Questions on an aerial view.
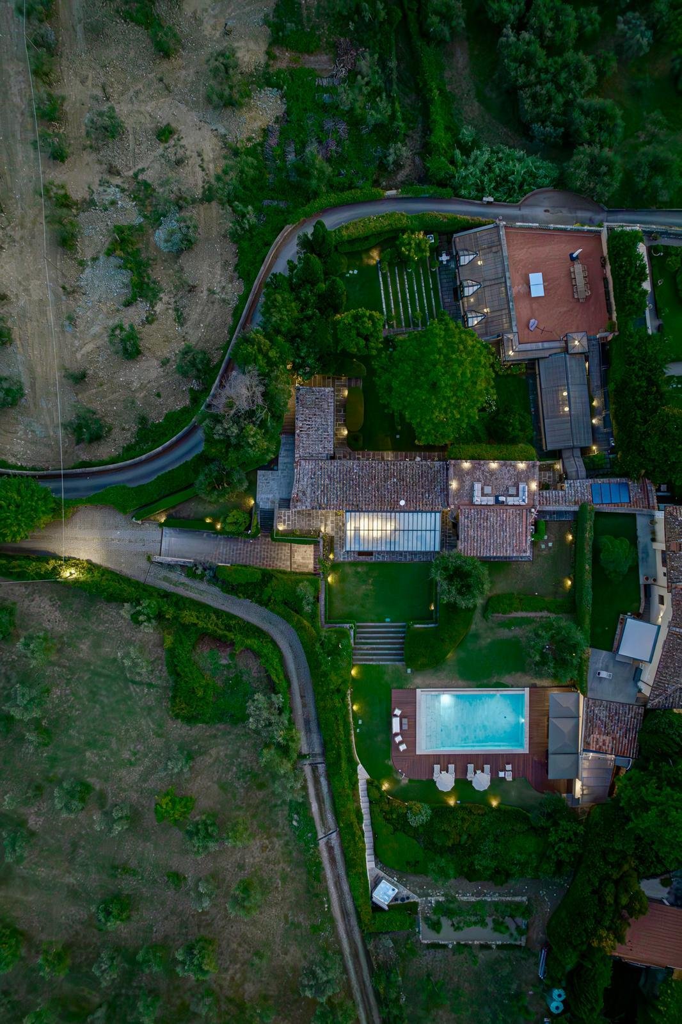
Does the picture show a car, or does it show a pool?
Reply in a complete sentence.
Looking from above, you can make out a pool.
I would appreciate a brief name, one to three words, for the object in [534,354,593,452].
house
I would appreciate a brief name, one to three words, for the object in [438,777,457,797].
umbrella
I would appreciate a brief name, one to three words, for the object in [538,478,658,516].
shed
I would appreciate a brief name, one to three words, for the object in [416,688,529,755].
swimming pool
